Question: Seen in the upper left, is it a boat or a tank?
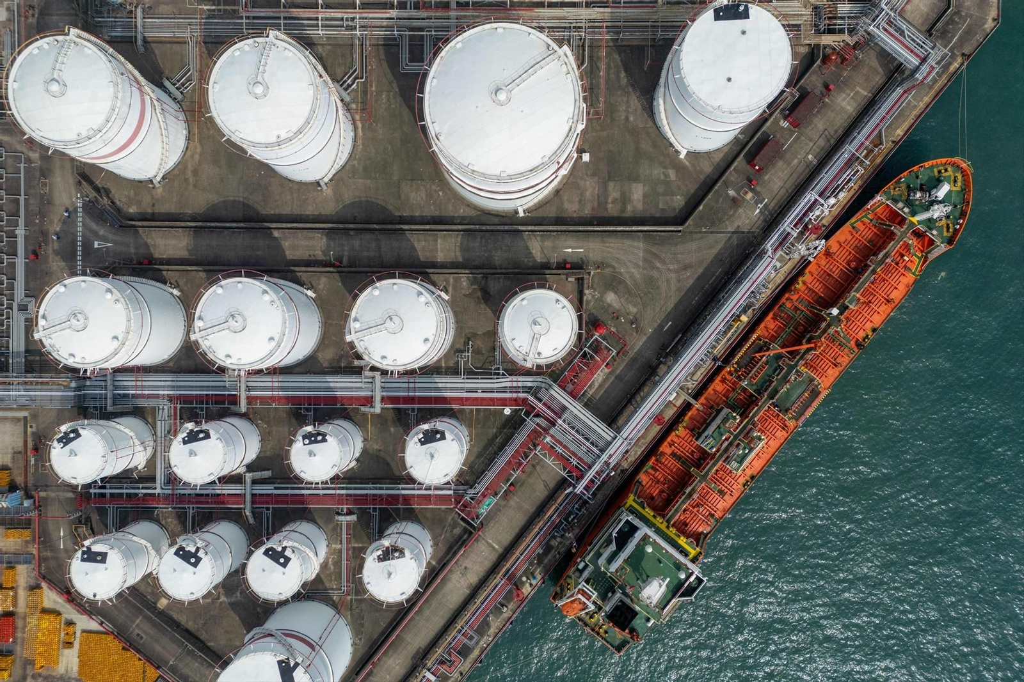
tank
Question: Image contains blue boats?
No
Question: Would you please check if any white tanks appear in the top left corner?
Yes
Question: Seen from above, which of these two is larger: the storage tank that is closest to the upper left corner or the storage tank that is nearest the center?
the storage tank that is closest to the upper left corner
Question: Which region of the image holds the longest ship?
right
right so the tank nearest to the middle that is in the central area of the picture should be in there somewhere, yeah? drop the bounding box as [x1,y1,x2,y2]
[496,285,583,377]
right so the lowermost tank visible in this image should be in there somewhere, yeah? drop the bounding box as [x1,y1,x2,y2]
[211,599,354,682]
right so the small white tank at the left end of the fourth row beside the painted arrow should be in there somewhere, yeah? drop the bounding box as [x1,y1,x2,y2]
[65,514,172,605]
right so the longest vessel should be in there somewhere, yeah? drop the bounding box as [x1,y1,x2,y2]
[546,160,977,653]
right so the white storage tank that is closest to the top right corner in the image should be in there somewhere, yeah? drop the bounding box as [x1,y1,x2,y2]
[653,0,798,157]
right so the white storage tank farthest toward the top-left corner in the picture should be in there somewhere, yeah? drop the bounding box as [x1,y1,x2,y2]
[3,20,193,186]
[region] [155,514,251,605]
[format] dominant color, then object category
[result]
white storage tank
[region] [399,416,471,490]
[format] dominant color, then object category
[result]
white storage tank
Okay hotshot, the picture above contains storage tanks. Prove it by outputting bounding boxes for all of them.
[284,418,365,489]
[45,414,160,490]
[204,24,356,186]
[399,416,471,490]
[3,20,193,186]
[165,415,261,489]
[184,270,324,378]
[590,323,628,356]
[242,515,330,606]
[65,514,172,605]
[211,599,354,682]
[418,17,587,213]
[496,285,583,377]
[155,514,251,605]
[653,0,798,157]
[358,516,434,607]
[340,271,455,378]
[26,268,190,377]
